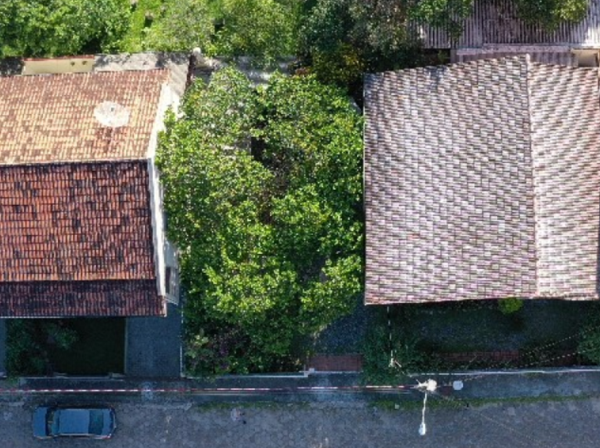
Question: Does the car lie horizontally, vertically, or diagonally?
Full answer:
In this picture, the car is oriented horizontally.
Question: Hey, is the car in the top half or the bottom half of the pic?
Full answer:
Seen from above, the car lies in the bottom half of the view.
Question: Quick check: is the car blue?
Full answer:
Yes, the car is blue.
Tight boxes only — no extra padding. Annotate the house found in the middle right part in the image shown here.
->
[363,54,600,305]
